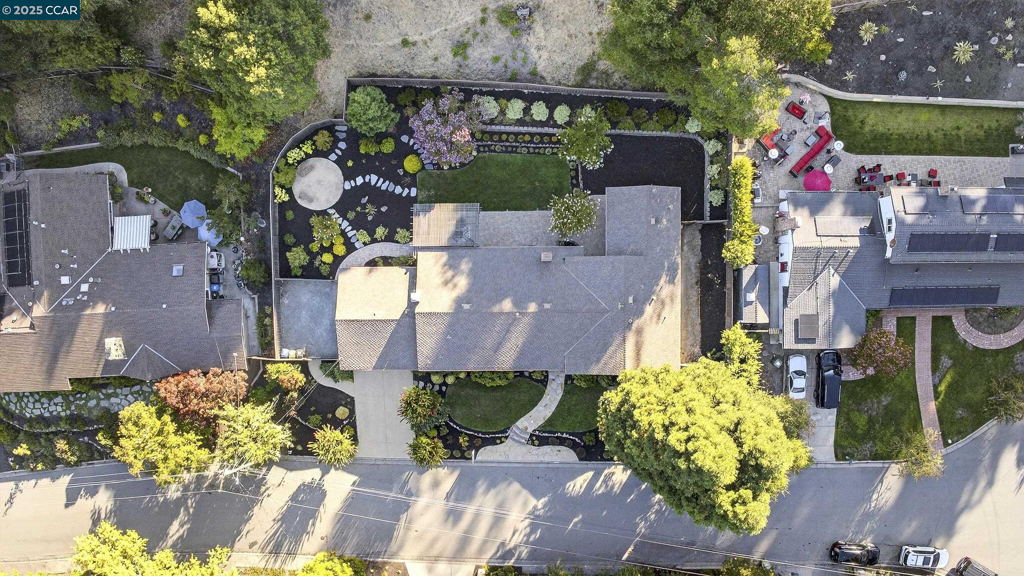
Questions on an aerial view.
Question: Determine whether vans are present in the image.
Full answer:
Yes, you can see a van in this photo.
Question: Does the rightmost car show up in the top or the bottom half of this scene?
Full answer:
The bottom half of the photo is where the rightmost car is.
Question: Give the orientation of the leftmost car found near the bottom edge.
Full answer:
The leftmost car found near the bottom edge is laid out from left to right.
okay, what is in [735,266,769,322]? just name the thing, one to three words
shed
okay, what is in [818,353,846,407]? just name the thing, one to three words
van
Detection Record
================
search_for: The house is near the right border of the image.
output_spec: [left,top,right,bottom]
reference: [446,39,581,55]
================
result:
[770,177,1024,349]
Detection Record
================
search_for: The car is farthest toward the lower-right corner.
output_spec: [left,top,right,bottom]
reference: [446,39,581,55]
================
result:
[957,554,1001,576]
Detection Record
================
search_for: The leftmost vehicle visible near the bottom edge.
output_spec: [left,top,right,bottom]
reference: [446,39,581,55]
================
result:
[831,542,884,570]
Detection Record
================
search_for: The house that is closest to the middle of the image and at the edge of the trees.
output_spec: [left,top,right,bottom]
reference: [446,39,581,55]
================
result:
[336,186,682,375]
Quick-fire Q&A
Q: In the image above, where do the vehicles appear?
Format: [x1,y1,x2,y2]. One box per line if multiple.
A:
[957,554,1001,576]
[788,353,813,400]
[901,546,954,573]
[831,542,884,570]
[818,353,846,407]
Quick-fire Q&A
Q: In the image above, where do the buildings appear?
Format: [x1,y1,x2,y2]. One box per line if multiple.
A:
[735,266,769,322]
[0,173,254,393]
[770,177,1024,349]
[336,186,682,375]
